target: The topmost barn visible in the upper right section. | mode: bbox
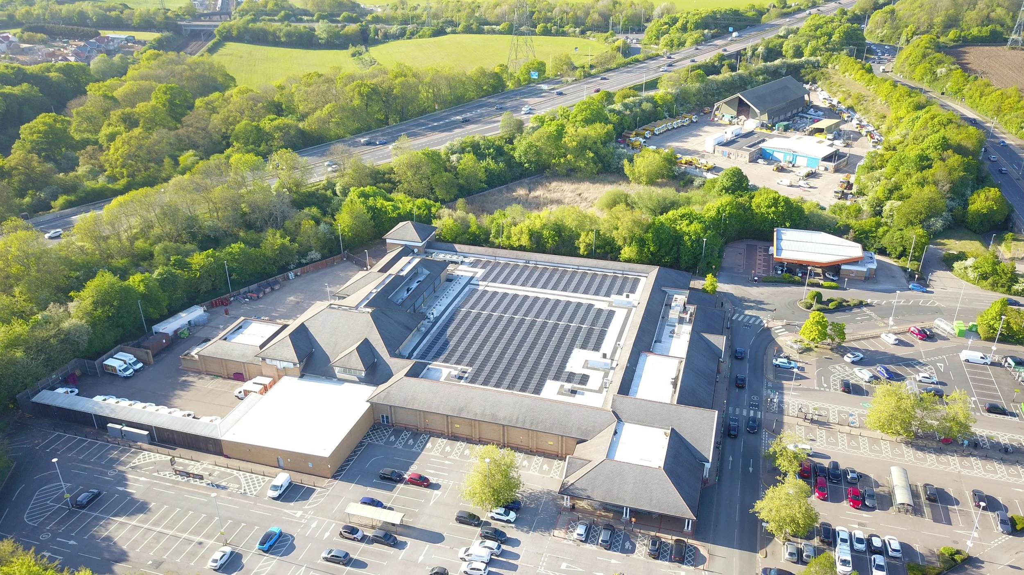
[712,75,809,122]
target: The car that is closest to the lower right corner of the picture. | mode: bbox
[993,511,1013,535]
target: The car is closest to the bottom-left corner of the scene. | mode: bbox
[72,489,101,510]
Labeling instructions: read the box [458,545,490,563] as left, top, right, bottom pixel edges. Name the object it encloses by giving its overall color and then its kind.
white vehicle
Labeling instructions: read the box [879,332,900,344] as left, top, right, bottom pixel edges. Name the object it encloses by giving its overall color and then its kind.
white vehicle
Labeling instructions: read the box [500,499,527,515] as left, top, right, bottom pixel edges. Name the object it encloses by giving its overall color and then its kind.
blue car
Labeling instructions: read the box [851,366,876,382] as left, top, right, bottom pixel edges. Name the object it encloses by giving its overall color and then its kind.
white car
